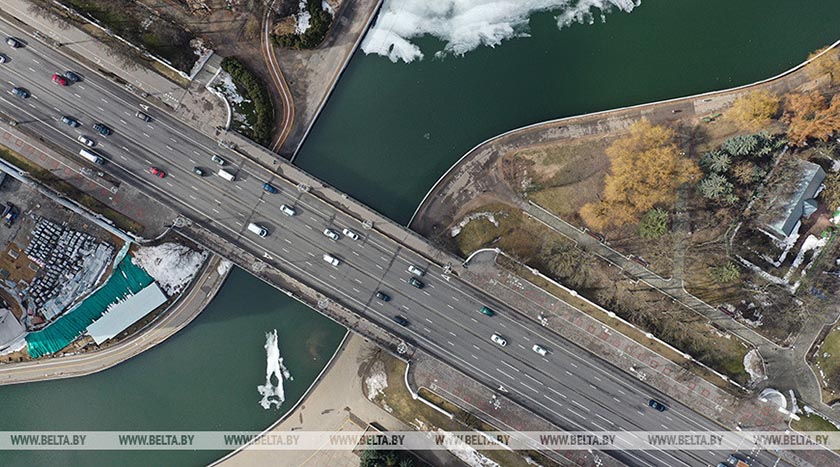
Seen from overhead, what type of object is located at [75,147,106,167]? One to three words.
vehicle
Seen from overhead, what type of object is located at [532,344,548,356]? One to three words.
vehicle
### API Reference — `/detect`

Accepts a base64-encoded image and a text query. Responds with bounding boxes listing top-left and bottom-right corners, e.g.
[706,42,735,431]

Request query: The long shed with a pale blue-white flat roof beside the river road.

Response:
[86,282,170,346]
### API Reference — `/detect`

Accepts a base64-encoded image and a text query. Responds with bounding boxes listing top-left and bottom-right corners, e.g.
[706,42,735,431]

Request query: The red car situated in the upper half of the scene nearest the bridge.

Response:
[150,166,167,178]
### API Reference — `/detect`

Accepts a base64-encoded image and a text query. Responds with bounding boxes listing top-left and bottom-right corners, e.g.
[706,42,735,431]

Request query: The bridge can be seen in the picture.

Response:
[171,126,467,364]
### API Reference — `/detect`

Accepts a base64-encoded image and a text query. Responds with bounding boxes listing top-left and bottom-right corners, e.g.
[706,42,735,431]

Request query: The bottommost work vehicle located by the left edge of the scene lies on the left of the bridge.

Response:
[4,202,22,221]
